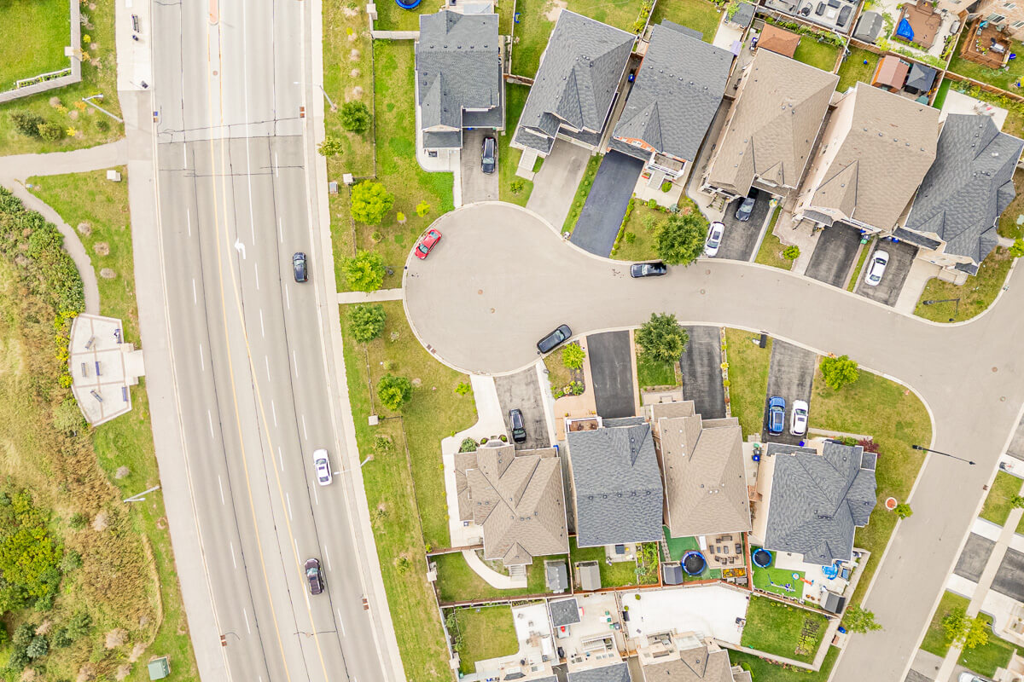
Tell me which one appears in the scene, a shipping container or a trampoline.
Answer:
trampoline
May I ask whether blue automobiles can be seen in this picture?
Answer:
Yes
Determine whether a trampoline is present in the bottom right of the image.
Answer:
Yes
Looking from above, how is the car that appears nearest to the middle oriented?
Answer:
on a diagonal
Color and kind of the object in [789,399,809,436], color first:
white car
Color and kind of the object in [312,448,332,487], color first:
white car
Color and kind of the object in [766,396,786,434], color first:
blue car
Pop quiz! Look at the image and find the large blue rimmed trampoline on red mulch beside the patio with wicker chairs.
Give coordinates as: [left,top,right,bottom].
[682,551,708,577]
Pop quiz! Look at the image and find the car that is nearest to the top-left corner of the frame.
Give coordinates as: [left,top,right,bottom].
[290,250,309,284]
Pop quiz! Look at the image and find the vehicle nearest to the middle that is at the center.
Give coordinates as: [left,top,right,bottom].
[536,323,573,355]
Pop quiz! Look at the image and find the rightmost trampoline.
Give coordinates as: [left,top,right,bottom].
[751,548,775,570]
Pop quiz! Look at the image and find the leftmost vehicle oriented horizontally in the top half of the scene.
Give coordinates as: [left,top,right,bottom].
[630,261,667,278]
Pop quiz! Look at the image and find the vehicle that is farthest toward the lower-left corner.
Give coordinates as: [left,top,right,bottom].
[304,557,325,596]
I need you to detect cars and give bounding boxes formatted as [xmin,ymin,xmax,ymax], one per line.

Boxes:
[630,261,667,278]
[957,669,993,682]
[766,396,786,434]
[290,250,309,284]
[789,399,809,436]
[864,248,888,286]
[415,228,442,260]
[480,136,497,173]
[736,190,759,222]
[304,557,325,596]
[509,407,527,443]
[704,220,725,257]
[312,448,332,487]
[536,323,573,355]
